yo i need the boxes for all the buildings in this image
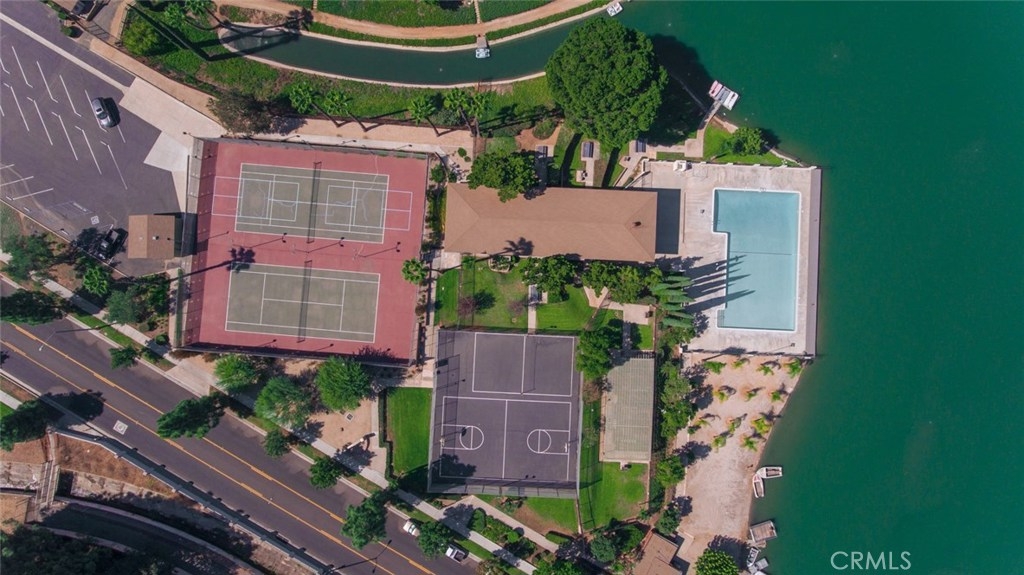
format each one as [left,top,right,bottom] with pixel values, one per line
[444,184,657,262]
[624,527,684,575]
[128,215,180,258]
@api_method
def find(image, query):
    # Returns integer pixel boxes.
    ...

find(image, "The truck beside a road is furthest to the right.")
[449,540,474,567]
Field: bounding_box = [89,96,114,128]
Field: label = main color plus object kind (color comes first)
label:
gray car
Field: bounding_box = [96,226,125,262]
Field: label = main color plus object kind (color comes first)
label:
black truck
